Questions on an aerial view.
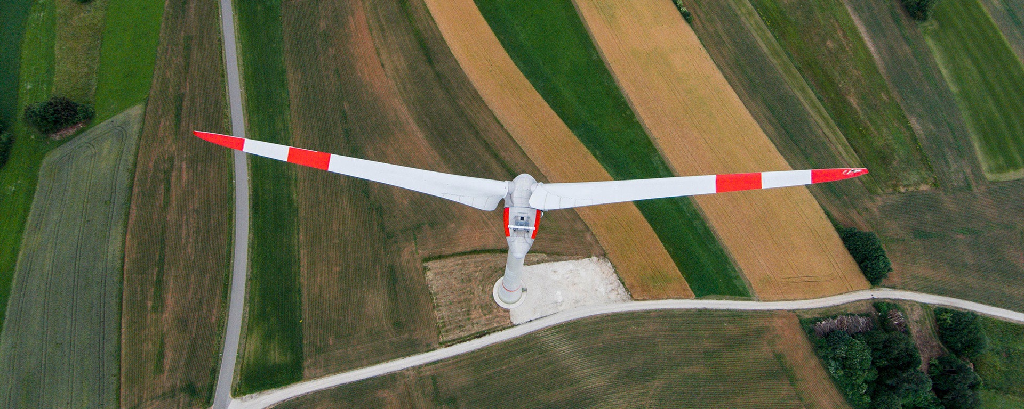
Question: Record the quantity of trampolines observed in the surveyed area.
0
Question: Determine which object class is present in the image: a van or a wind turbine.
wind turbine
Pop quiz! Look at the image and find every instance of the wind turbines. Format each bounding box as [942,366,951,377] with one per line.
[192,130,868,309]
